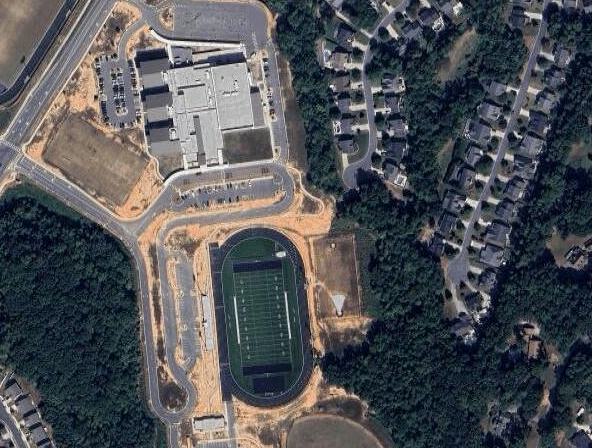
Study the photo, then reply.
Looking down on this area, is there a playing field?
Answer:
Yes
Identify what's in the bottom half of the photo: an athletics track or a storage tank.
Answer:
athletics track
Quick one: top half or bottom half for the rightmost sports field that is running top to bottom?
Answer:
bottom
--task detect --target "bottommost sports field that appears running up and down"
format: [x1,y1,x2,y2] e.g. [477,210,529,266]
[222,237,304,398]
